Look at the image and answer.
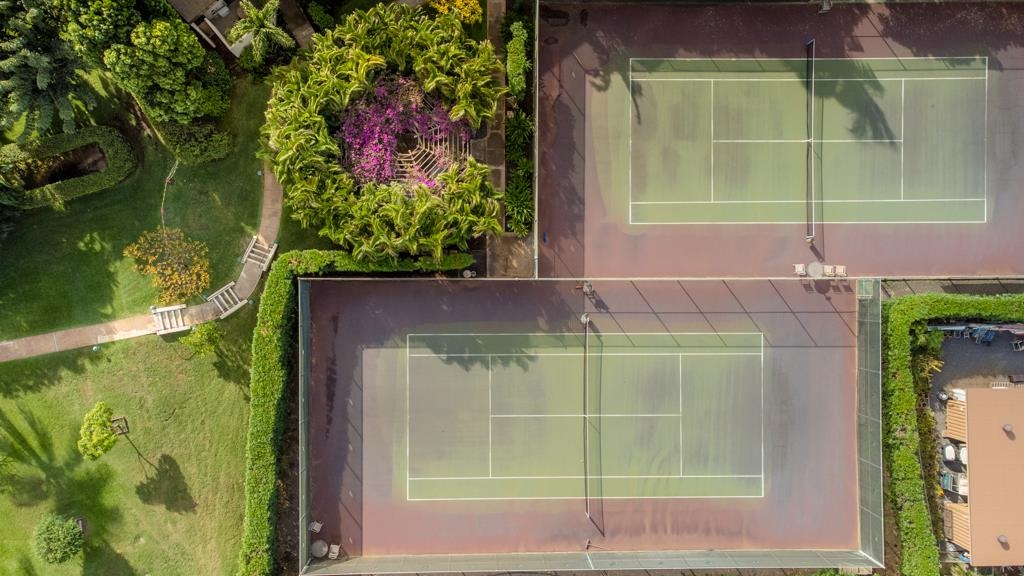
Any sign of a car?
No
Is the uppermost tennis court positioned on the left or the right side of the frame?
right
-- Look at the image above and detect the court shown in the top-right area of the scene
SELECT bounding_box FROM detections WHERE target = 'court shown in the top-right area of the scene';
[538,2,1024,278]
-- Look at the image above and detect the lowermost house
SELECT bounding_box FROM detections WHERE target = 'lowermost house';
[931,388,1024,568]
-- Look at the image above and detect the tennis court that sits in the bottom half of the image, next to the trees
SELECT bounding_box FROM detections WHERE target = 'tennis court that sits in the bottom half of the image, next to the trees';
[312,279,857,552]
